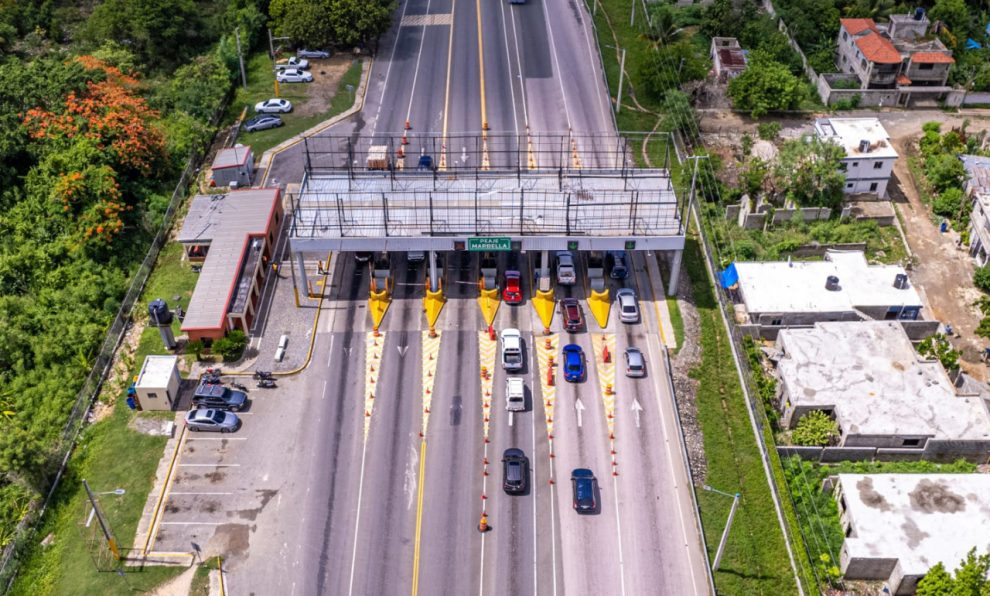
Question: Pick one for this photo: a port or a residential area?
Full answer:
The area seen from above is a residential area.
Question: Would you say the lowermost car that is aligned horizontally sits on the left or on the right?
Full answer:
You can find the lowermost car that is aligned horizontally on the left side of the picture.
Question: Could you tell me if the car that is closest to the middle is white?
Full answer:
No, the car that is closest to the middle is red.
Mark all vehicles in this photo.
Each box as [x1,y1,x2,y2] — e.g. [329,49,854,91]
[624,349,648,380]
[297,46,329,60]
[503,377,526,414]
[194,372,217,383]
[277,69,311,84]
[555,252,577,286]
[499,332,523,372]
[616,291,640,323]
[255,99,291,113]
[190,386,248,413]
[255,377,277,387]
[569,469,598,517]
[606,251,628,280]
[183,411,241,436]
[501,451,527,496]
[253,369,275,378]
[275,56,309,73]
[503,277,523,305]
[202,366,223,376]
[229,381,247,392]
[560,300,583,333]
[562,348,585,383]
[405,250,423,263]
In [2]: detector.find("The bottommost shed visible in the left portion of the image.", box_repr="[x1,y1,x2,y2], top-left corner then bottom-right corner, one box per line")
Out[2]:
[134,354,182,410]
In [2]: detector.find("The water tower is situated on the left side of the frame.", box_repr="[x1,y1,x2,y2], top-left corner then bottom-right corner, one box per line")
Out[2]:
[146,295,177,350]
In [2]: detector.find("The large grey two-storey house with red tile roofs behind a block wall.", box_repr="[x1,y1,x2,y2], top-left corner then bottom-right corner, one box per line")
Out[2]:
[835,15,960,111]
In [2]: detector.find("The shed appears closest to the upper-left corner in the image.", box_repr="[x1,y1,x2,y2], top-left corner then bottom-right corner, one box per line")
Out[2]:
[212,146,251,192]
